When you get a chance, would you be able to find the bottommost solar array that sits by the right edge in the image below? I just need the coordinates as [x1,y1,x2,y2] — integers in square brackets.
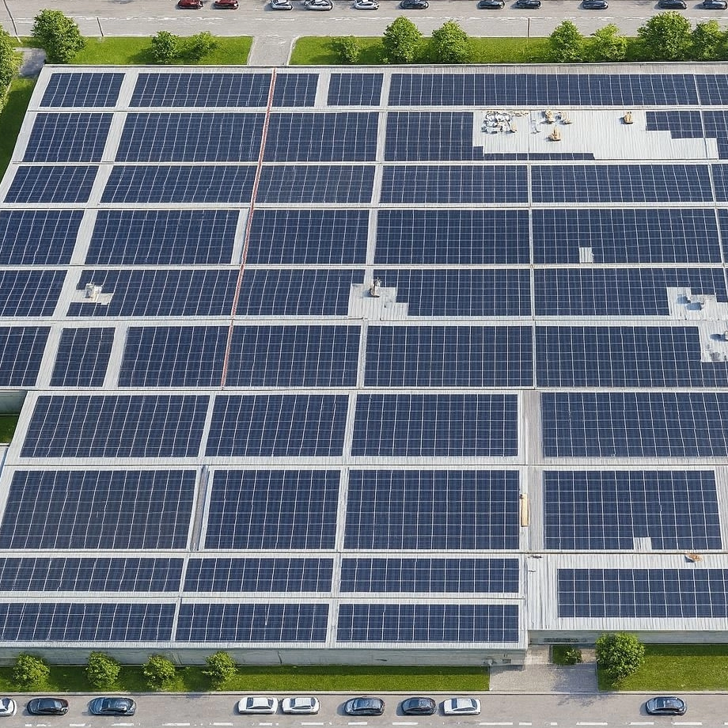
[558,568,728,616]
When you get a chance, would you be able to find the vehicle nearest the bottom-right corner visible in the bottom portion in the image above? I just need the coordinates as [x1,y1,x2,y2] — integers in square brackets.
[645,697,686,716]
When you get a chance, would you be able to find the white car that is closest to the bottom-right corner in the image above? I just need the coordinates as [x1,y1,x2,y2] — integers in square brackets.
[442,697,481,716]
